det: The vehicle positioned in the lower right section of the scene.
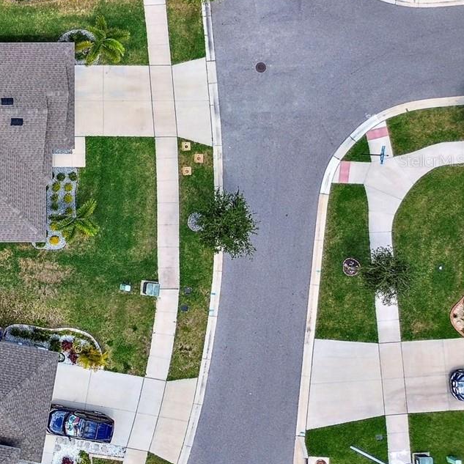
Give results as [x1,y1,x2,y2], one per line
[447,371,464,400]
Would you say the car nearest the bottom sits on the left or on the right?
left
